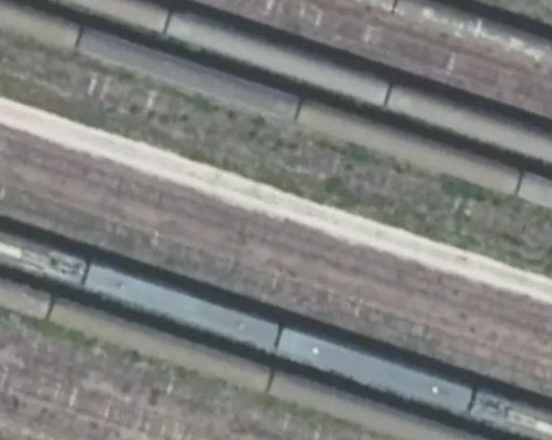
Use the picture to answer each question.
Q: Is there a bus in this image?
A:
Yes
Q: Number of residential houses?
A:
none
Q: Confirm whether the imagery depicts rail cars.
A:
Yes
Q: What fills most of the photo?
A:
paved ground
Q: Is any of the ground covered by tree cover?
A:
No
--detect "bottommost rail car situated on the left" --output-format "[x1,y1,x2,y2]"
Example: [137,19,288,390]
[82,261,279,352]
